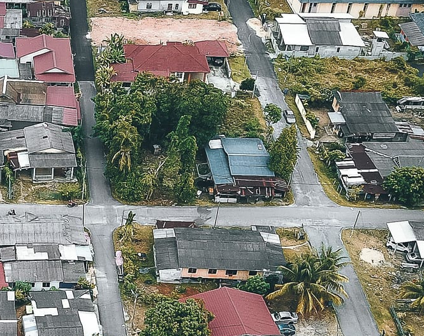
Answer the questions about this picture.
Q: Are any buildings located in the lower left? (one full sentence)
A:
Yes, a building appears in the lower left.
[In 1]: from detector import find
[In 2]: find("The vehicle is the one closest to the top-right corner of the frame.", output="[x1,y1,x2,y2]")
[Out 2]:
[394,95,424,112]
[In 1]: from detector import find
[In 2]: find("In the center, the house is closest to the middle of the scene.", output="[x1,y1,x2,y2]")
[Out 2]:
[204,138,288,206]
